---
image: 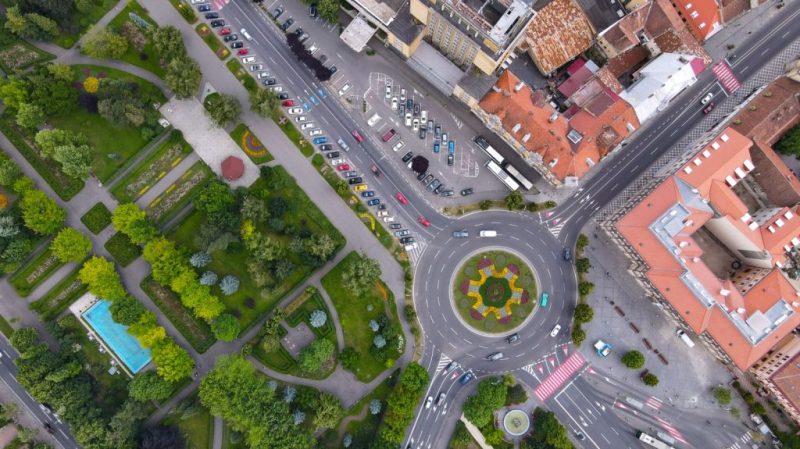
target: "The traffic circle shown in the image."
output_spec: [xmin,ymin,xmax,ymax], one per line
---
[413,210,577,373]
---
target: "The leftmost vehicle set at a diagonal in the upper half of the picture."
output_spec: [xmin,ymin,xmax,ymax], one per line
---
[239,27,253,42]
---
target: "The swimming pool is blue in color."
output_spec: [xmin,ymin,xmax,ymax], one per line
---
[68,290,159,377]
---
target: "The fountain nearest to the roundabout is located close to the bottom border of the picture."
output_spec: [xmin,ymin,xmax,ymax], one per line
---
[505,410,530,436]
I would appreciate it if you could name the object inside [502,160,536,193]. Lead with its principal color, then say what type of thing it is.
white bus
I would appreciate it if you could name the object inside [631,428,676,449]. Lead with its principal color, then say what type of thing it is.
white bus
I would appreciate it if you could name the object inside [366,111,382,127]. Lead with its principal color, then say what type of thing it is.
white vehicle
